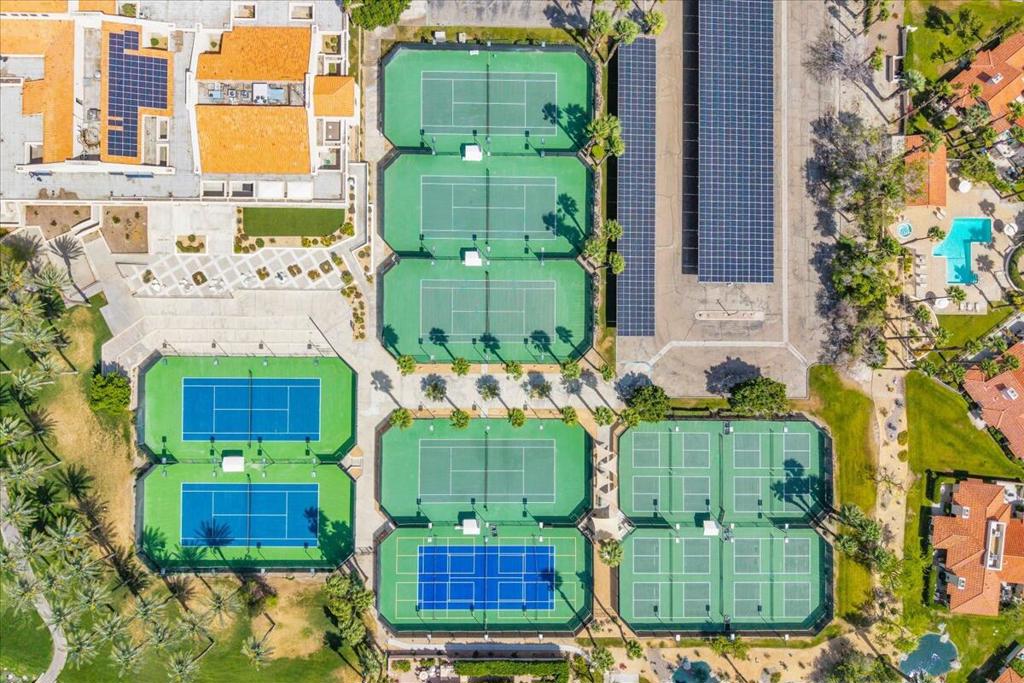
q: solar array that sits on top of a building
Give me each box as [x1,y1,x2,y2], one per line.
[108,31,167,156]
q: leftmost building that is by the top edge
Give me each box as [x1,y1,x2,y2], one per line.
[0,0,361,203]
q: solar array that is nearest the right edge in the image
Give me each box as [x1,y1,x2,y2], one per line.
[698,0,774,283]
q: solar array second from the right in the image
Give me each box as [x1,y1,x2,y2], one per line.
[617,38,655,336]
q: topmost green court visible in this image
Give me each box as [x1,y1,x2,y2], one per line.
[385,51,591,154]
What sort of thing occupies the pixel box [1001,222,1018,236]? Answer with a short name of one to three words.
umbrella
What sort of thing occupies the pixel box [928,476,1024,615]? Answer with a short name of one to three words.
house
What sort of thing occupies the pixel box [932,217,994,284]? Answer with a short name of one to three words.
swimming pool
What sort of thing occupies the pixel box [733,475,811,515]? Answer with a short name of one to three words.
sports court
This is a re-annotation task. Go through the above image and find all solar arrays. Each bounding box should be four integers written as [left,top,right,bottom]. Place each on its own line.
[698,0,774,283]
[108,31,167,156]
[617,38,655,336]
